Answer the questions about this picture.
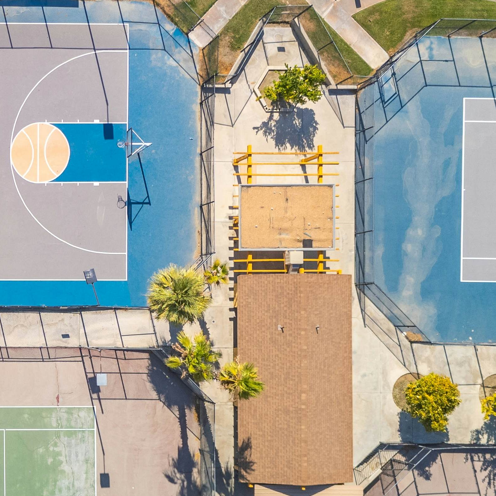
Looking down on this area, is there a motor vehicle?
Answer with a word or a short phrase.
No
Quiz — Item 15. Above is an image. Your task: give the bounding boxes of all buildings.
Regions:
[233,183,335,252]
[232,275,352,490]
